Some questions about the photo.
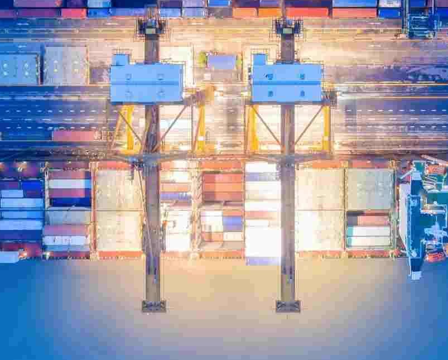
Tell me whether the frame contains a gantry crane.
Yes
